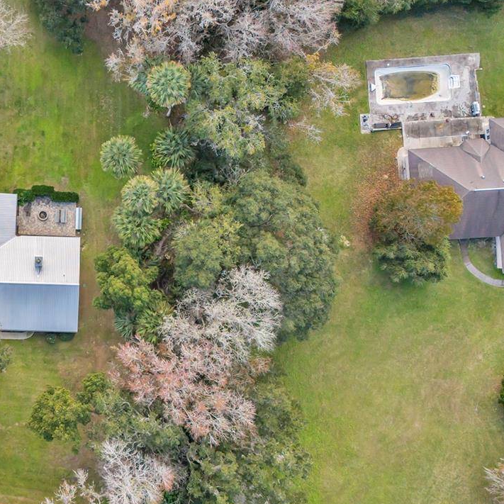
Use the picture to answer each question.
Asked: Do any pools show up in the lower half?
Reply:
No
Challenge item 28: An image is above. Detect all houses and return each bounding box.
[402,117,504,275]
[0,194,80,332]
